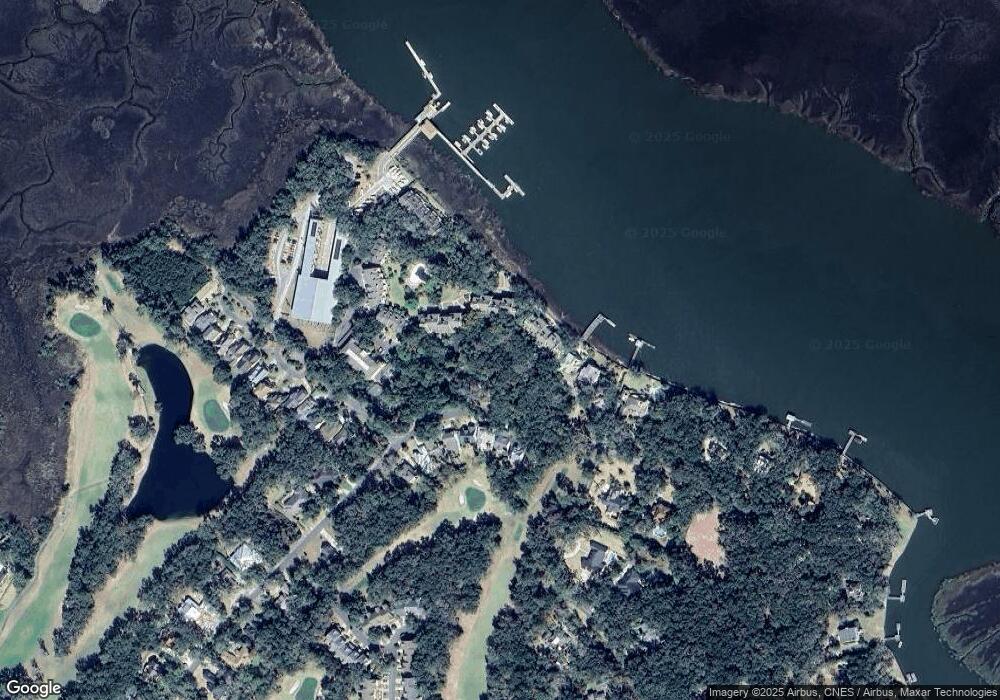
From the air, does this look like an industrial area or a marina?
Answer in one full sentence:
This looks like a marina.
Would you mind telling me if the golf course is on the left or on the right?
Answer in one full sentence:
It is on the left.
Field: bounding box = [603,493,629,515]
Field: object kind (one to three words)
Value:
house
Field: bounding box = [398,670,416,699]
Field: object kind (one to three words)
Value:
house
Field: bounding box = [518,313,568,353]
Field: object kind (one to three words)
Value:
building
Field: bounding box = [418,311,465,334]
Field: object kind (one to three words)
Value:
building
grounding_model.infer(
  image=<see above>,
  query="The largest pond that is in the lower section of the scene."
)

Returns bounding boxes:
[128,345,230,518]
